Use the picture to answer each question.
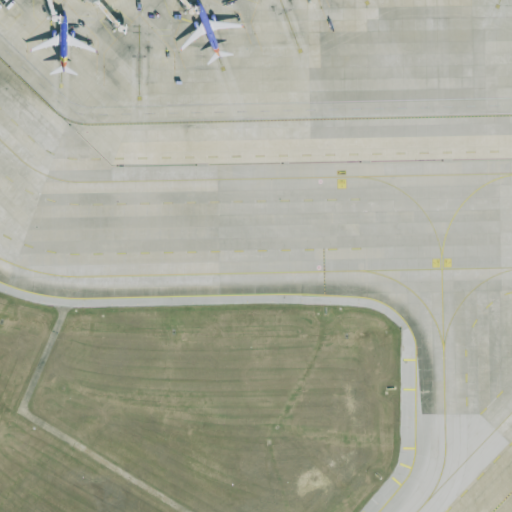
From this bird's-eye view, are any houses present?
No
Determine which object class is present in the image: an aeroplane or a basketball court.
aeroplane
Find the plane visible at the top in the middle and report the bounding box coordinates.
[181,0,244,64]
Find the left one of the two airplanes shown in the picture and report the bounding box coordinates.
[30,10,96,74]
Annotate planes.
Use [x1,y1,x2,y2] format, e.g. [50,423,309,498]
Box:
[30,10,96,74]
[181,0,244,64]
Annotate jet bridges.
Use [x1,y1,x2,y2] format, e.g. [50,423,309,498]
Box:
[45,0,62,22]
[179,0,198,15]
[94,0,126,32]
